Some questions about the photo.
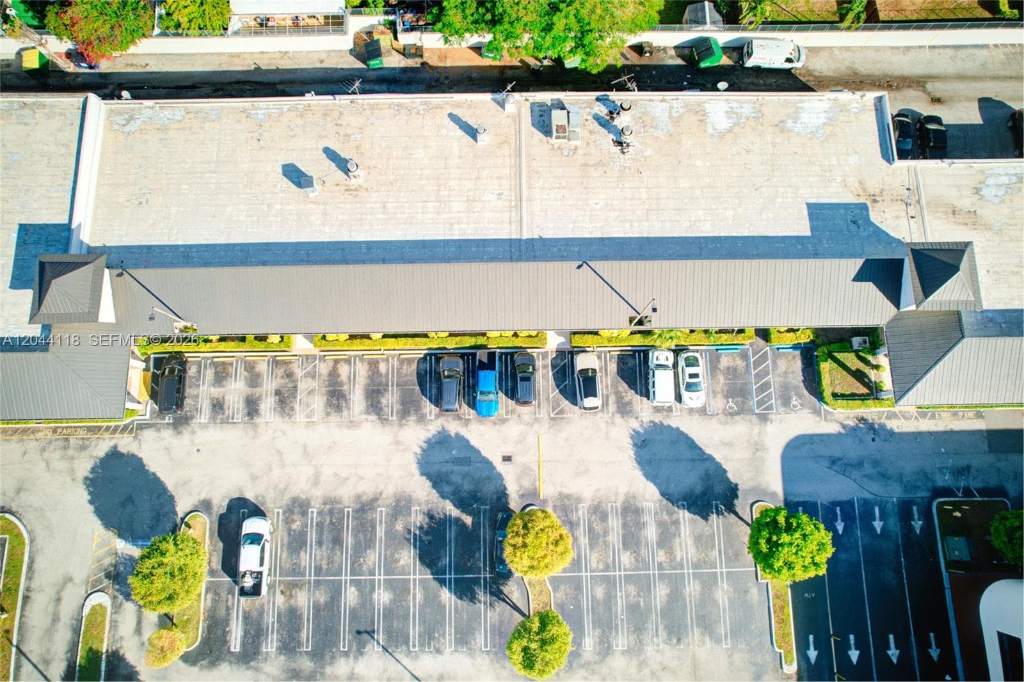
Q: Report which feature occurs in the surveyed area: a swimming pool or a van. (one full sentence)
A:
I can see a van in this picture.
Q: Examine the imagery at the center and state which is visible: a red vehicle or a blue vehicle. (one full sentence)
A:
Visible at the center is a blue vehicle.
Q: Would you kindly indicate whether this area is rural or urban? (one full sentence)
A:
From above, the setting appears urban.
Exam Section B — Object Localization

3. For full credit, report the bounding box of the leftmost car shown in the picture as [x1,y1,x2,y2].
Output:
[156,354,191,418]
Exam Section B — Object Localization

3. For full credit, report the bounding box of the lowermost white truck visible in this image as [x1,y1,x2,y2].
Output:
[240,518,277,600]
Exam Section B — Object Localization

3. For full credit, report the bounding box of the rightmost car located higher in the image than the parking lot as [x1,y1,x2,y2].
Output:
[999,111,1024,160]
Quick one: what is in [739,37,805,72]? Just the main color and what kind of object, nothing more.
white van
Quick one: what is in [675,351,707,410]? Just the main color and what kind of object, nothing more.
white car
